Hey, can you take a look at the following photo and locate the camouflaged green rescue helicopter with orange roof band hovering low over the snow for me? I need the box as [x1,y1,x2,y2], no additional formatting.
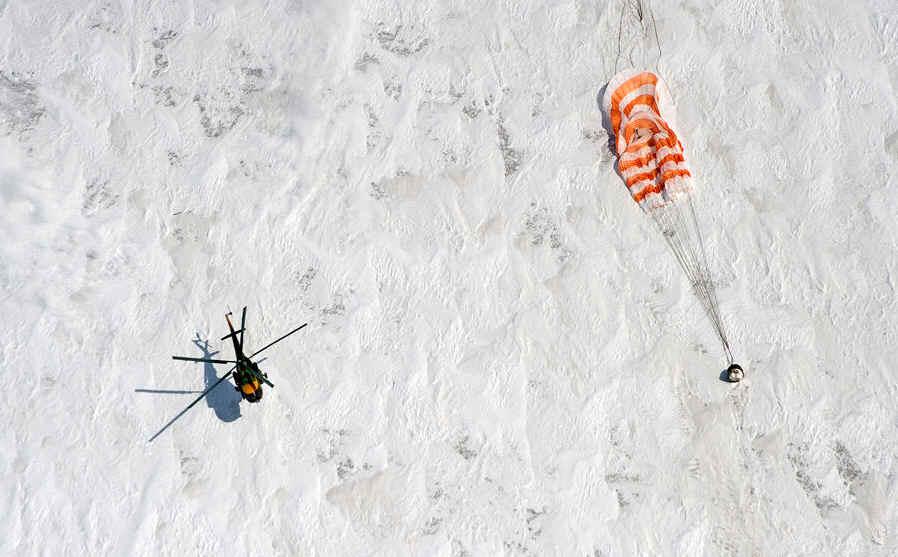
[172,302,308,408]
